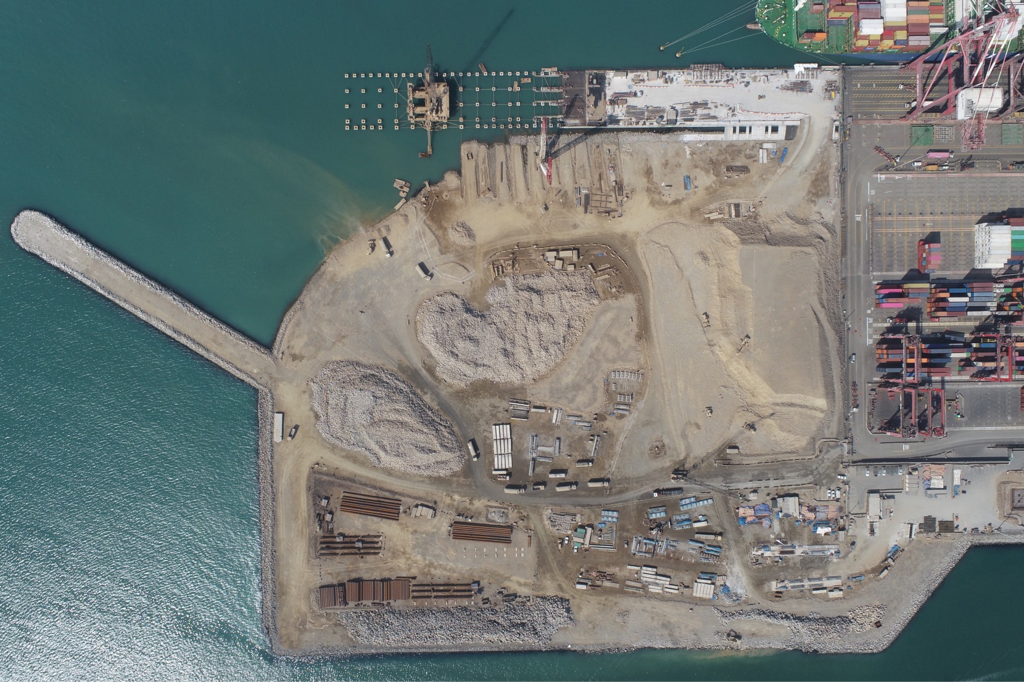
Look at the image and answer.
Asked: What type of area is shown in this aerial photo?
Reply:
port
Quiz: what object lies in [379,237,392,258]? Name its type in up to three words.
vehicle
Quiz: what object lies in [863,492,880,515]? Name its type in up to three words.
building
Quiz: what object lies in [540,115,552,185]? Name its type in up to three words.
crane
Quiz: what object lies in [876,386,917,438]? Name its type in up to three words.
container crane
